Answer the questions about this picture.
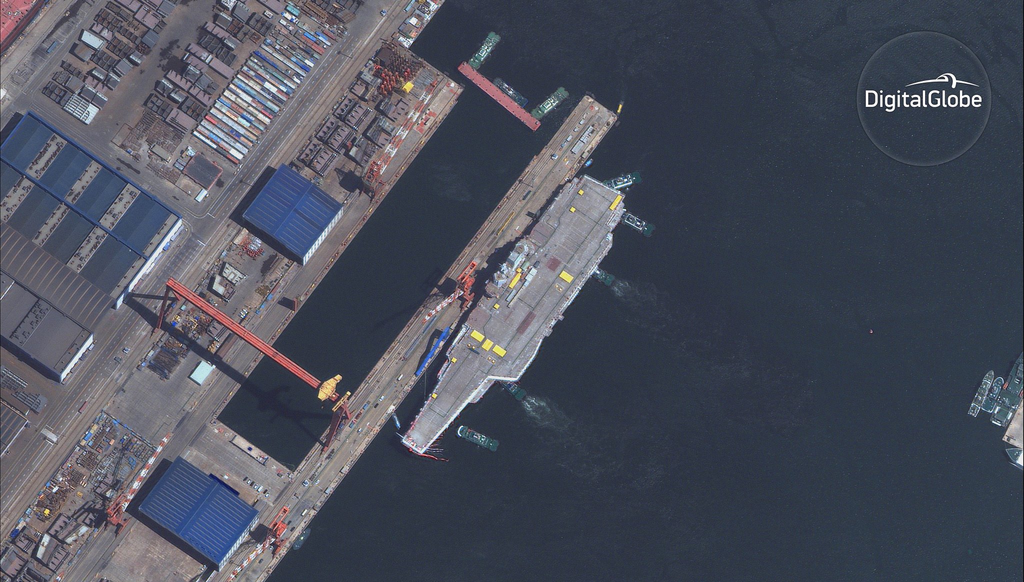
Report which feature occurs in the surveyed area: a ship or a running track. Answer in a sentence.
The one in the frame is a ship.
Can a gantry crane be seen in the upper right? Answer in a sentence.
No, no gantry crane appears in the upper right.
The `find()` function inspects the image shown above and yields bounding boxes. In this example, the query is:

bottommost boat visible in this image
[292,527,311,551]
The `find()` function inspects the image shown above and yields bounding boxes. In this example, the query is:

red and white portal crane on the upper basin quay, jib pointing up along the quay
[358,79,438,205]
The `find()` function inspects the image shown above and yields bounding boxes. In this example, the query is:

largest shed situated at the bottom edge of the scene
[138,457,259,570]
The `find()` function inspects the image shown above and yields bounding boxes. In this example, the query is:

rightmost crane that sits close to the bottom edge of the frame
[226,505,292,582]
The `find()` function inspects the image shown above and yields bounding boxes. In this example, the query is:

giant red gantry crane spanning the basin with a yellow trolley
[153,277,354,454]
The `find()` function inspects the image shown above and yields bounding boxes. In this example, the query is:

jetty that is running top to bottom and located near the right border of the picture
[1002,397,1024,448]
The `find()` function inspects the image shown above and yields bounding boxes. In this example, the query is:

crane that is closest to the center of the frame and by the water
[422,261,479,322]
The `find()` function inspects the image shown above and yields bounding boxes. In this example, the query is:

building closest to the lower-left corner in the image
[0,402,28,461]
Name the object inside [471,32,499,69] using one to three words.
boat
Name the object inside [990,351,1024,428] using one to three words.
ship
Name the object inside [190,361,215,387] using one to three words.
shed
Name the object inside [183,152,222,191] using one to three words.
building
